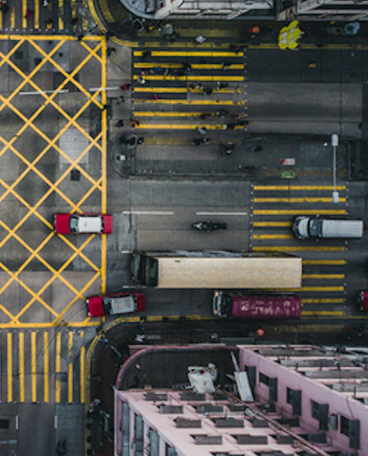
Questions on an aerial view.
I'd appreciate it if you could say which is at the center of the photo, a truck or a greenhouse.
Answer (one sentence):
There is a truck at the center of the photo.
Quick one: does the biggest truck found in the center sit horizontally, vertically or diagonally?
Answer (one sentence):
From this overhead view, the biggest truck found in the center appears to run horizontally.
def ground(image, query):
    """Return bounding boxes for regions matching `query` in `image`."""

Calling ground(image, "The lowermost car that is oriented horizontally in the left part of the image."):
[84,292,147,320]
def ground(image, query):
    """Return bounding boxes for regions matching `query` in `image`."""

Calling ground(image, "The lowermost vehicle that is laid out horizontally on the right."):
[211,290,315,323]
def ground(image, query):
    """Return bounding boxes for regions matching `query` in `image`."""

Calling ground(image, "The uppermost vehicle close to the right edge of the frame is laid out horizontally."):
[292,214,367,242]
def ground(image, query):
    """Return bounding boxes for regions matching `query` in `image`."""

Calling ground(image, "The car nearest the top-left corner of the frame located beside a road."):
[51,210,112,237]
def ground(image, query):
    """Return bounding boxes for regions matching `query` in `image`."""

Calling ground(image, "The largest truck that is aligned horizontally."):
[115,251,303,288]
